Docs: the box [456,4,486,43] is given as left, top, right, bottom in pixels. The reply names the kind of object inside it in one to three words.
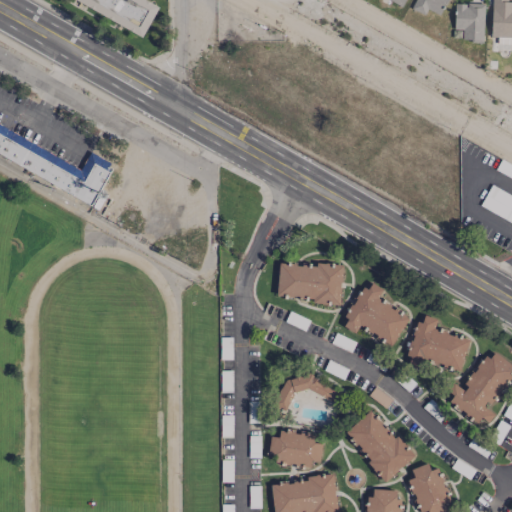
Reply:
house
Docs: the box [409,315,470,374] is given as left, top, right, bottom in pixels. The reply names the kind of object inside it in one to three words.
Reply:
building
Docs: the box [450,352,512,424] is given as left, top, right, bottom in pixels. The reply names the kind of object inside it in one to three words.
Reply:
building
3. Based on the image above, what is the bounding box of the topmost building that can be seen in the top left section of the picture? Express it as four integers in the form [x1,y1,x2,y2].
[79,0,160,38]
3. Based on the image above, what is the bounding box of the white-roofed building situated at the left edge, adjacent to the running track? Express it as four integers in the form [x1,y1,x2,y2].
[0,124,112,205]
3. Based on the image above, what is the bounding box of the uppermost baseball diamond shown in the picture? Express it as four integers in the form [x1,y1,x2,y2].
[8,210,57,294]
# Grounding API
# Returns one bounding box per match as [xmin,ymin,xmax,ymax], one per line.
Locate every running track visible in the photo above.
[25,247,183,512]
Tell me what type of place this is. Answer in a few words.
sports ground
